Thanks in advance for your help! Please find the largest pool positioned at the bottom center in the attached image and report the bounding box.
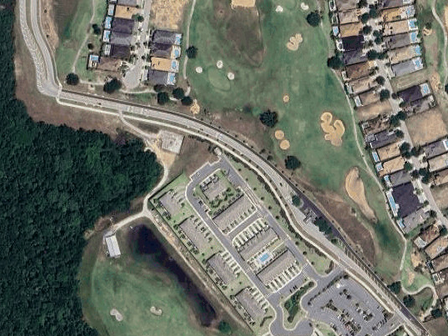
[253,246,276,269]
